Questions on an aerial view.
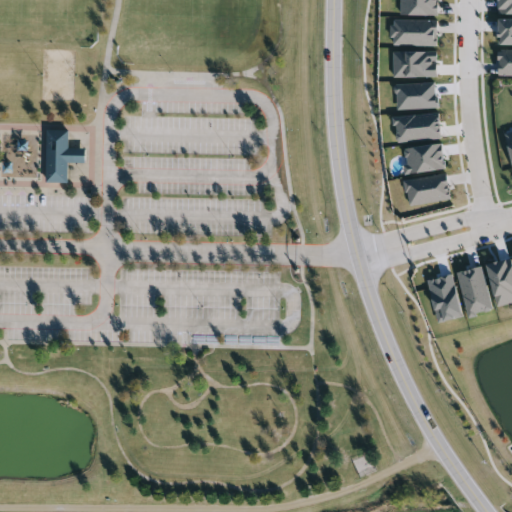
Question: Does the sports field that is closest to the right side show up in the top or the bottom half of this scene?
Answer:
top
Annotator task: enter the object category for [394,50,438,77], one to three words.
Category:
house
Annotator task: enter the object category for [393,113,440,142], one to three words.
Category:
house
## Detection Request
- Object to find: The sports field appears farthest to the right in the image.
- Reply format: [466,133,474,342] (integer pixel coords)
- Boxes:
[124,0,262,56]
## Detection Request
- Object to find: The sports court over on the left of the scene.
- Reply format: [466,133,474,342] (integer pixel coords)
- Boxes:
[42,50,74,101]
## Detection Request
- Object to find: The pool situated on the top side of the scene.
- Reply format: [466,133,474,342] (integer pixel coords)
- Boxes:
[388,156,405,178]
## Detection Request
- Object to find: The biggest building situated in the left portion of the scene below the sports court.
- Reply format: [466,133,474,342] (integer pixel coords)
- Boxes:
[46,128,84,182]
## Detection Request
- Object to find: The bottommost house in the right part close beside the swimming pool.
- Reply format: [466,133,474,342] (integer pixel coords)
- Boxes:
[406,172,450,206]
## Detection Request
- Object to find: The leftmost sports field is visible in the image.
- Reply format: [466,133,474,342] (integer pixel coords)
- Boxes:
[0,0,94,46]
